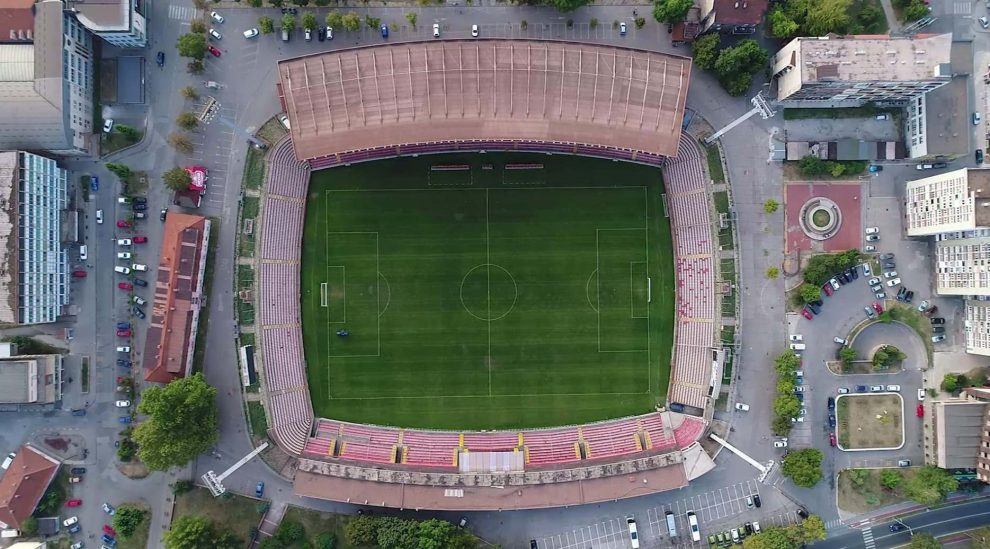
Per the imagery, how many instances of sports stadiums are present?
1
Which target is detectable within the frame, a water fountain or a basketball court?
water fountain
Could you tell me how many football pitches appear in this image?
1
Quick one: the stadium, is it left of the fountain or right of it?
left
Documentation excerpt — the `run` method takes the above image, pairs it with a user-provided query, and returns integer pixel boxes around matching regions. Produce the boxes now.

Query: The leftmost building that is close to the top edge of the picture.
[0,0,101,161]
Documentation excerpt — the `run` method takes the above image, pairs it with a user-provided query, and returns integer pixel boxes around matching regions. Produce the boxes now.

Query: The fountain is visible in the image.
[800,196,842,240]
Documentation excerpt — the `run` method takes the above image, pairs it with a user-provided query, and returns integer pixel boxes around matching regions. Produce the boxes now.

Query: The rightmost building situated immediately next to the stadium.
[771,35,954,106]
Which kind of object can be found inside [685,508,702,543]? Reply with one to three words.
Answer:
vehicle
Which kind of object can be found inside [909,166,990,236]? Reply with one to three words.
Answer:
building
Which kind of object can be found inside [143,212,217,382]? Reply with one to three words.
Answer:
house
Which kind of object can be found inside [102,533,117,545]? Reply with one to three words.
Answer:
vehicle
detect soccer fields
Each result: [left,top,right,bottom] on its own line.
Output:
[300,151,676,432]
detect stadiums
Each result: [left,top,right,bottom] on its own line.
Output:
[259,39,716,512]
